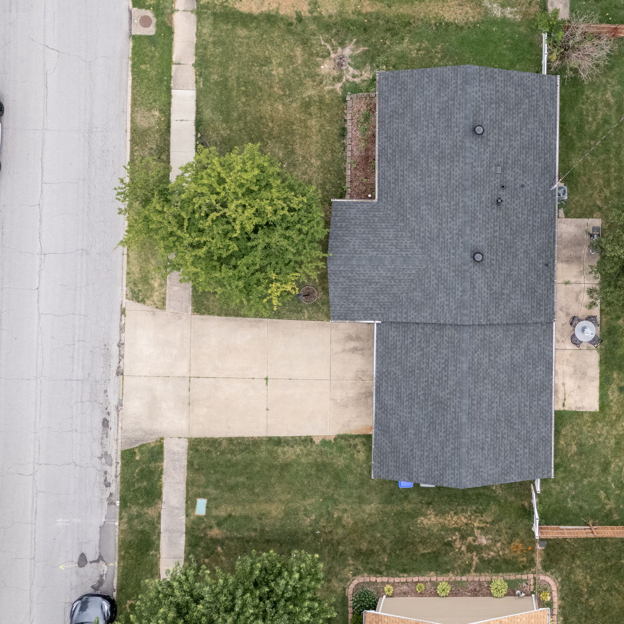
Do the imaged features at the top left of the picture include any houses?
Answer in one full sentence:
No, looking at the top left of the picture, there is no house.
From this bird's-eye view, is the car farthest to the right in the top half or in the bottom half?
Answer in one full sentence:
The bottom half of the photo is where the car farthest to the right is.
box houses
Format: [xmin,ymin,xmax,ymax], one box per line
[328,64,561,488]
[362,596,552,624]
